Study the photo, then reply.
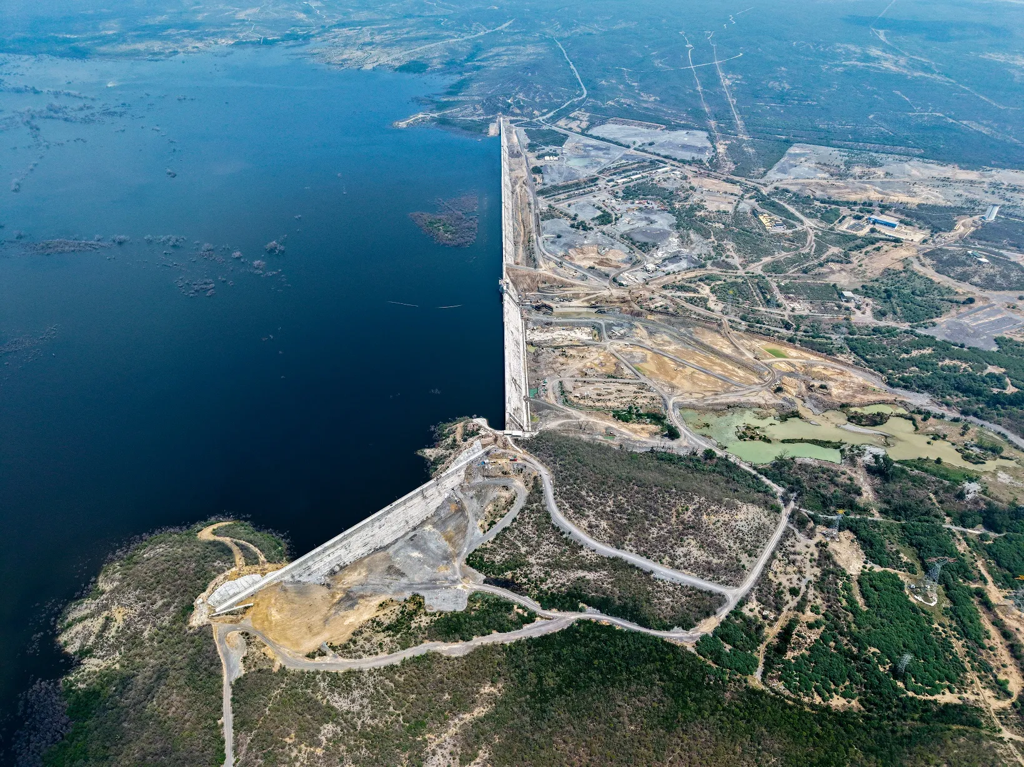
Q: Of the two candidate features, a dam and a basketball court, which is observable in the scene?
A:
dam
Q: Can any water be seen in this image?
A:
Yes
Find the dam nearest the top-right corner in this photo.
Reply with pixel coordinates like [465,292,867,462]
[501,120,539,432]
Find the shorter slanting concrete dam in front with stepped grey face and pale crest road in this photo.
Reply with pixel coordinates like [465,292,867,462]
[218,443,495,615]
